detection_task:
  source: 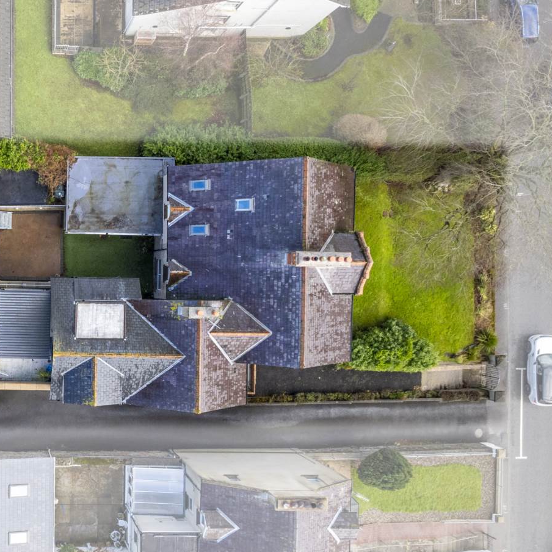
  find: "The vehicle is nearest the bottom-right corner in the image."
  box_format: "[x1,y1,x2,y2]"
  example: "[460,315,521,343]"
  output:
[523,334,552,405]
